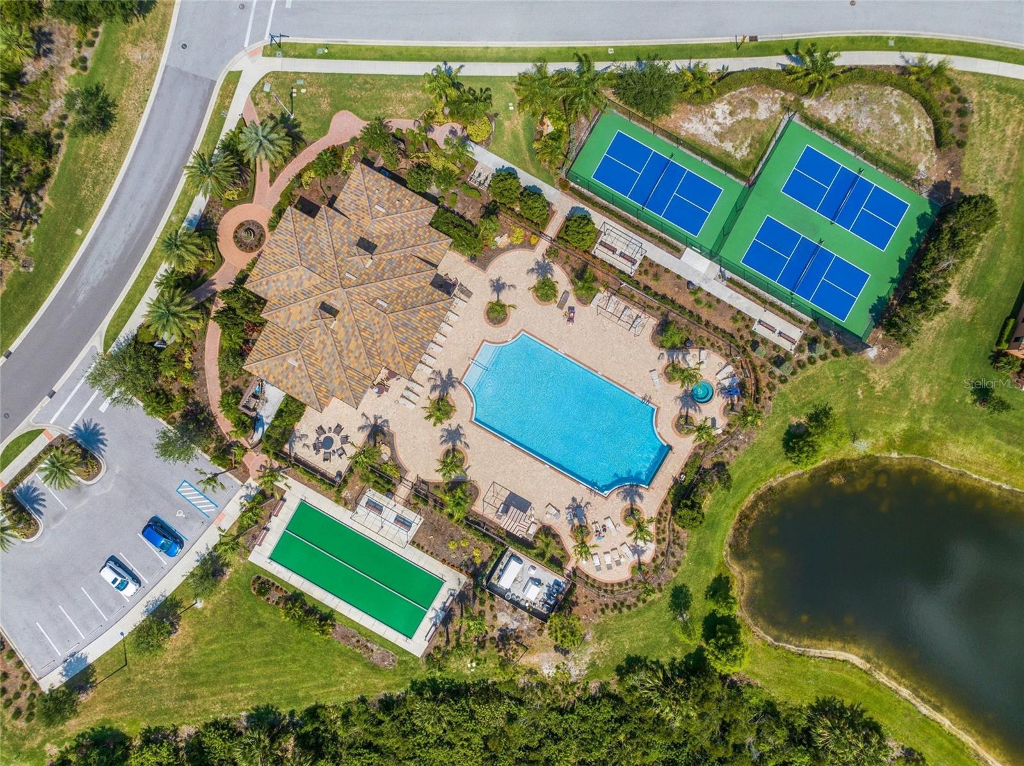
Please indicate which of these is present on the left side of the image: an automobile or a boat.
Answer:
automobile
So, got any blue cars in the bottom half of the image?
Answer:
Yes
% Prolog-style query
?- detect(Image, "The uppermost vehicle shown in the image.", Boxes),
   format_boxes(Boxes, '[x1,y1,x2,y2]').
[142,518,183,556]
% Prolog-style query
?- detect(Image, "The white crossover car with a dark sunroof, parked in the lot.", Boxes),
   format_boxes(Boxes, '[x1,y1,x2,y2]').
[98,558,140,596]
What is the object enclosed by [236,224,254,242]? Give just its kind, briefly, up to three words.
fountain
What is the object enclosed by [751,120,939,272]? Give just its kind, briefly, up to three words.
sports court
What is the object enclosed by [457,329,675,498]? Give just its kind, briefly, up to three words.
swimming pool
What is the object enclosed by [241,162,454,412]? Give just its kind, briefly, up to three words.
building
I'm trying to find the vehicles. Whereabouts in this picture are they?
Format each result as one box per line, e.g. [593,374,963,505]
[142,518,183,556]
[98,558,140,596]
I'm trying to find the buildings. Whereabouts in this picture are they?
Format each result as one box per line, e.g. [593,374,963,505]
[241,162,454,412]
[1008,320,1024,368]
